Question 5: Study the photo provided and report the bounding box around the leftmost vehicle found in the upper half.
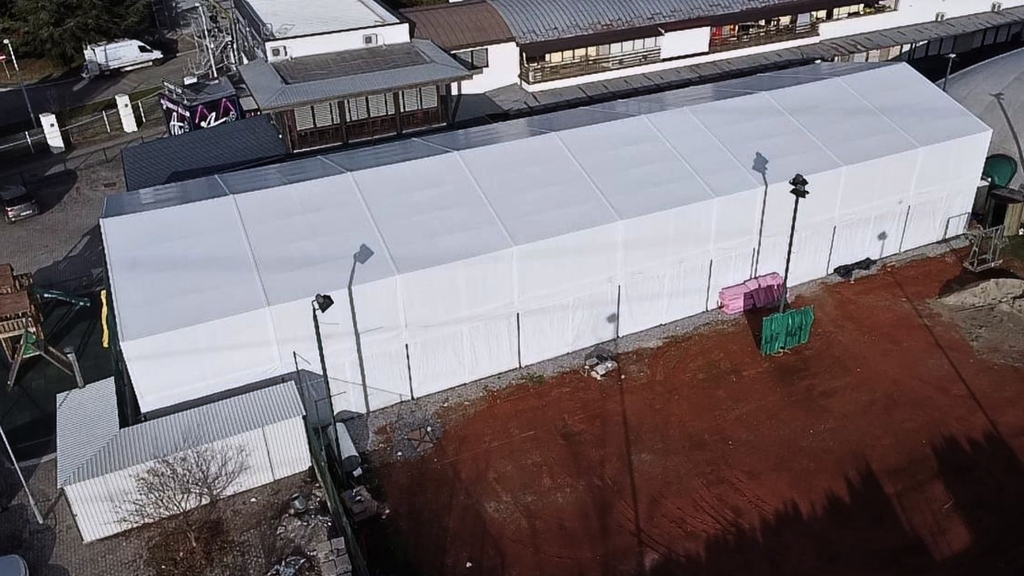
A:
[0,176,38,216]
